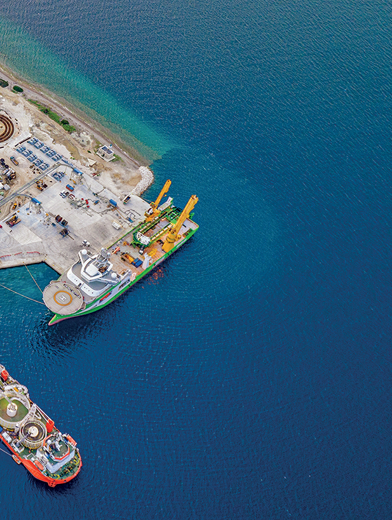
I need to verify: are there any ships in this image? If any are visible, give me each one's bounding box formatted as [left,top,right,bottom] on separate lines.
[43,181,200,324]
[0,366,85,482]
